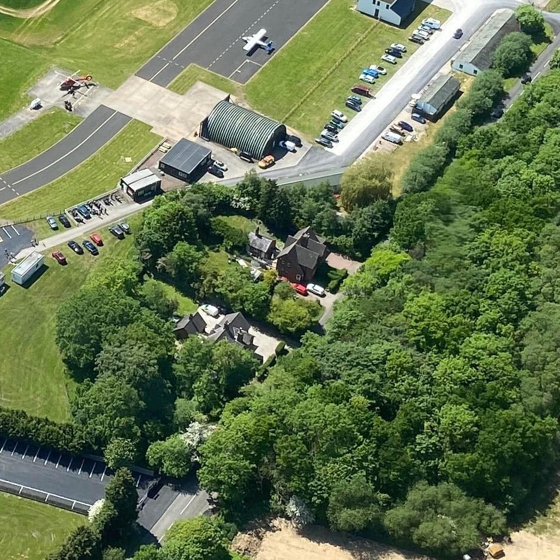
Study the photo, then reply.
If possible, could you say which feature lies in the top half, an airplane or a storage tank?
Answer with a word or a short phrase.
airplane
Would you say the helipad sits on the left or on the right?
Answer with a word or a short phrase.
left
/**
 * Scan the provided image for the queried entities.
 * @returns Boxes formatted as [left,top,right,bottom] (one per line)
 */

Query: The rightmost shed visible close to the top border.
[454,9,526,75]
